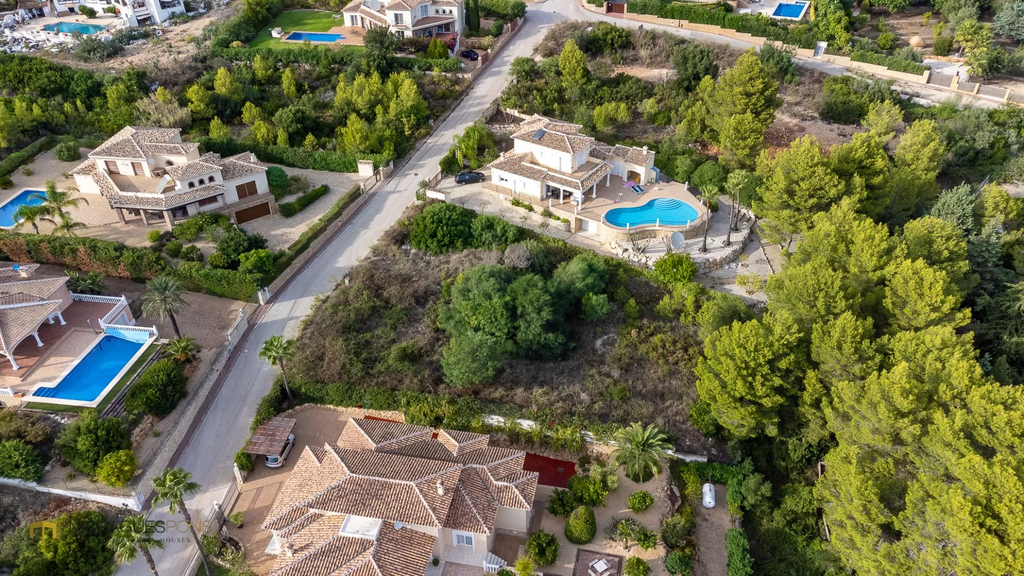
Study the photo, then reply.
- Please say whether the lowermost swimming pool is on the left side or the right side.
left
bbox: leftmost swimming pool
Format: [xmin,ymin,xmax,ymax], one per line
[0,189,48,227]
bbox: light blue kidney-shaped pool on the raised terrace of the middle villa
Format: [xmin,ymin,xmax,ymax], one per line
[603,196,701,229]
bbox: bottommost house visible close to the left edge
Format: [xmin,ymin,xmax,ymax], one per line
[0,263,78,372]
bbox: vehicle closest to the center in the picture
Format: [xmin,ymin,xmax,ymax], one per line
[455,173,485,188]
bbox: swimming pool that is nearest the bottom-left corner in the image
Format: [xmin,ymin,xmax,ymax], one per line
[19,330,152,407]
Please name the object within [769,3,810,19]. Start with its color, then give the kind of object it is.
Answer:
blue swimming pool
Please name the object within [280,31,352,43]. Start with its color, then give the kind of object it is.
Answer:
blue swimming pool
